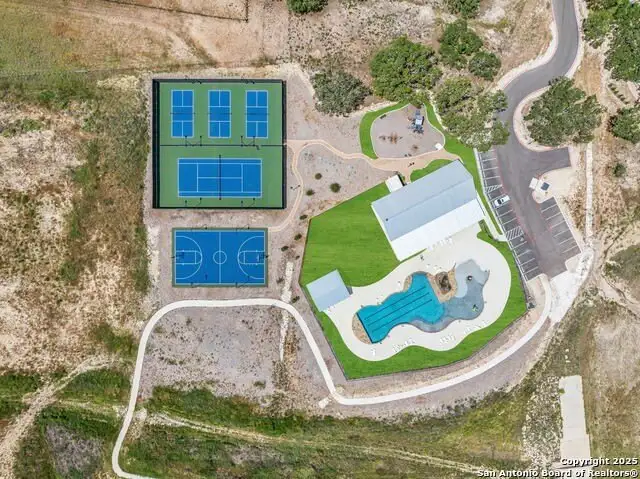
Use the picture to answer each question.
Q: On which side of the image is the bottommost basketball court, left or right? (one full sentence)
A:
The bottommost basketball court sits on the left side.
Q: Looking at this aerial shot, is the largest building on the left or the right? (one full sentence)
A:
You can find the largest building on the right side of the picture.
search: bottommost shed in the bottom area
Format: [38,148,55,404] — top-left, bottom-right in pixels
[306,270,351,312]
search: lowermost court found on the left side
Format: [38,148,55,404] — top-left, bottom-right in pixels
[172,228,268,286]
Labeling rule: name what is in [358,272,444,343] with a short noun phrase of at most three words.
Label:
swimming pool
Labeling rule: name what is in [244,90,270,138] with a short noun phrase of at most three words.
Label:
sports court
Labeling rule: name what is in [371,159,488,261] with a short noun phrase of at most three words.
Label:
building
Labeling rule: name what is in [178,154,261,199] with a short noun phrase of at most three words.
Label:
tennis court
